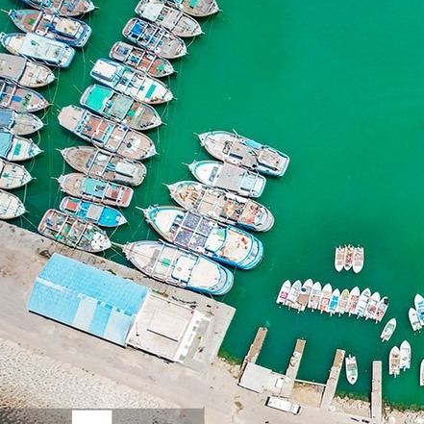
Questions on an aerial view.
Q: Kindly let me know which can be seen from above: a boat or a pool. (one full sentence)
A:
There is a boat in the scene.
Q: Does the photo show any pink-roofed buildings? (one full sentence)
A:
No, the picture doesn't show any pink-roofed building.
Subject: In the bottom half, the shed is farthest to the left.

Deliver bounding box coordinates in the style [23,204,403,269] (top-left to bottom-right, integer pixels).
[29,254,151,346]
